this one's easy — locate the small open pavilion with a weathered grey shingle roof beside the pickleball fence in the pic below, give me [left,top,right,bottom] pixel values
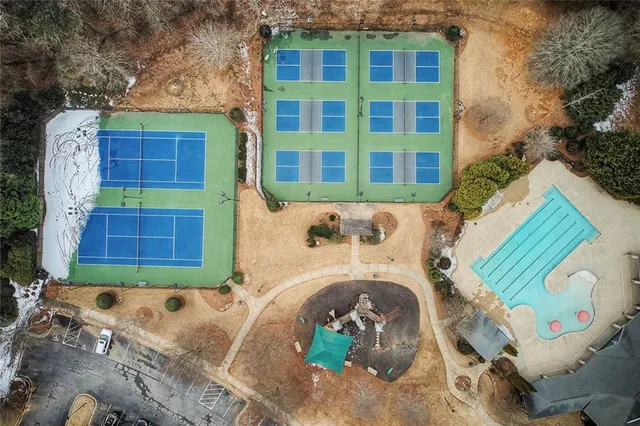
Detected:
[340,219,372,235]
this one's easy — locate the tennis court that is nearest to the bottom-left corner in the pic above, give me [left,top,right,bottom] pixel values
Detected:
[72,206,205,267]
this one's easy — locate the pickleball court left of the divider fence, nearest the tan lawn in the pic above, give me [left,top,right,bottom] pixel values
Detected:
[275,150,346,183]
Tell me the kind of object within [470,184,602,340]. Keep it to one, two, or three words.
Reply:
swimming pool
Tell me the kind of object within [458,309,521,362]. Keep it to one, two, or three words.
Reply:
building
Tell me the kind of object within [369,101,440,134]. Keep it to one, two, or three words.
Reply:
sports court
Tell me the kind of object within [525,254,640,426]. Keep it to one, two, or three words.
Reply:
building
